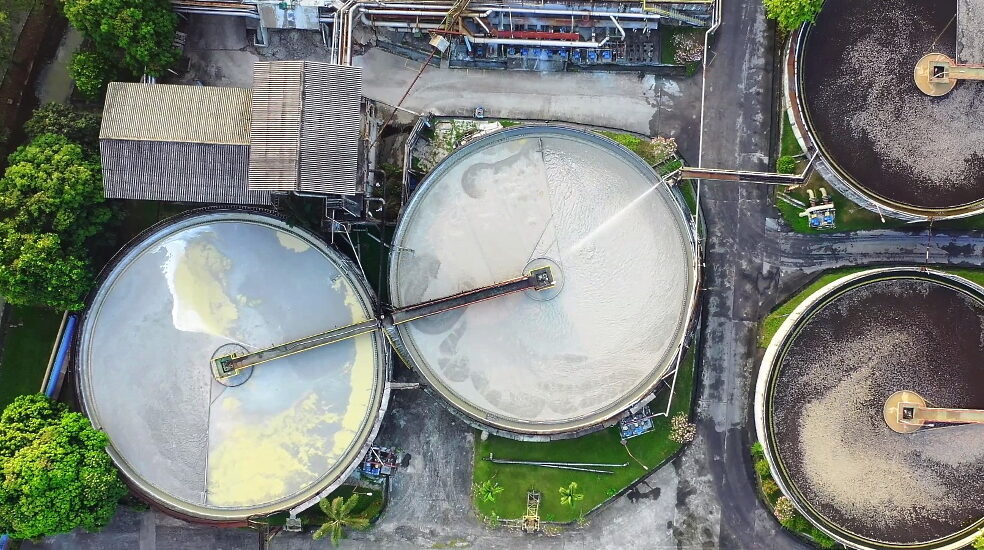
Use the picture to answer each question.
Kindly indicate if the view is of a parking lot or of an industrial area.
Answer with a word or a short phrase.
industrial area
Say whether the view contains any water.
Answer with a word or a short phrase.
Yes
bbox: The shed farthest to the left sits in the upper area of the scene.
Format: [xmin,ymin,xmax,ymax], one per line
[99,82,273,205]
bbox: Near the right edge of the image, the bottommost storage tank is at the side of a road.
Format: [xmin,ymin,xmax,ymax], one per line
[755,266,984,550]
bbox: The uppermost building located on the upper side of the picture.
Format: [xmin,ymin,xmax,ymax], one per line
[254,0,325,52]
